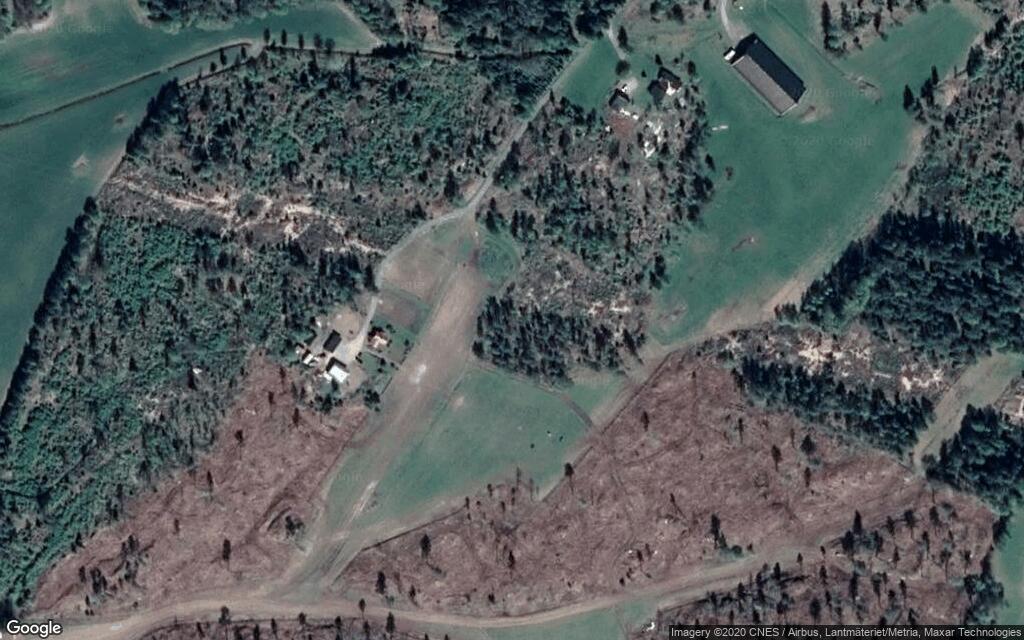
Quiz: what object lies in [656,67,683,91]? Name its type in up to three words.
house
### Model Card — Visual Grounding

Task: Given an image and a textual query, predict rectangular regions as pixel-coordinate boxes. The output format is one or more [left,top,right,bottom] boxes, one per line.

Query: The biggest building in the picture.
[730,39,806,117]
